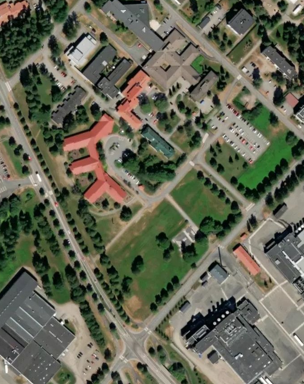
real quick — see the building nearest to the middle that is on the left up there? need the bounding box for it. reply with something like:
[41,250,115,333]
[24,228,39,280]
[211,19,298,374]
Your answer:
[105,177,128,203]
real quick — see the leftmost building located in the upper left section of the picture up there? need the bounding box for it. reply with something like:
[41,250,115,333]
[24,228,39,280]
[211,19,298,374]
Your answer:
[0,0,20,24]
